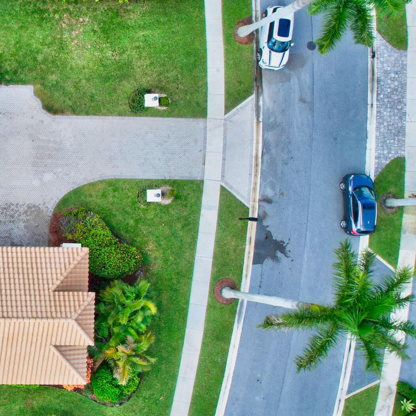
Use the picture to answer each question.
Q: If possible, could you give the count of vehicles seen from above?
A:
2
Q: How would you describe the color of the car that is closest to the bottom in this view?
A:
blue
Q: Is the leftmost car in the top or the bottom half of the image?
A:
top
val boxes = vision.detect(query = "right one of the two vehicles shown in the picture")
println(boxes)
[340,173,379,236]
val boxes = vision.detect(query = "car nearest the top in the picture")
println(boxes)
[259,3,298,68]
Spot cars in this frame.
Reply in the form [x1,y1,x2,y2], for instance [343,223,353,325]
[340,173,379,236]
[259,3,298,68]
